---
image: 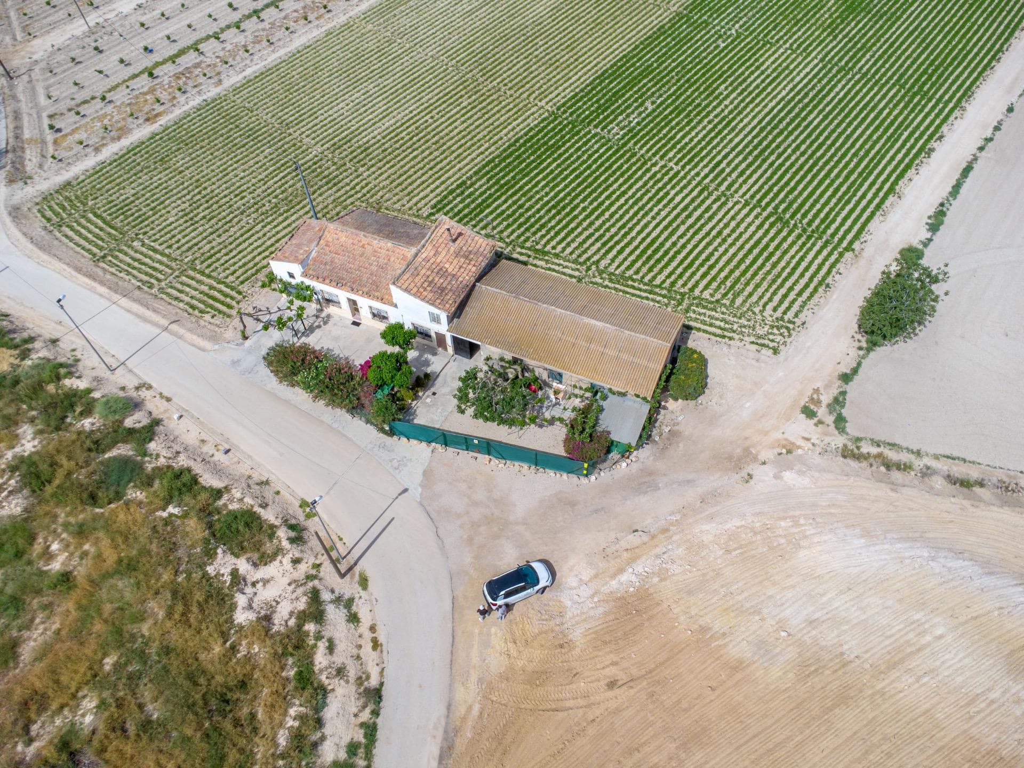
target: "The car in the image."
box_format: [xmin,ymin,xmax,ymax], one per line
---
[482,563,553,612]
